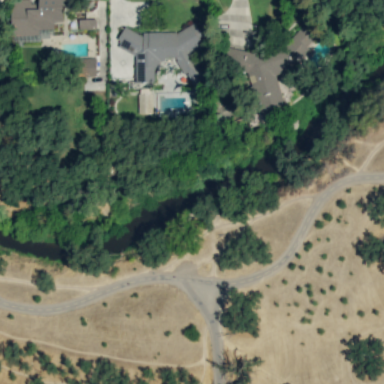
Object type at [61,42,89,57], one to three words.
swimming pool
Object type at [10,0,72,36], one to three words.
house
